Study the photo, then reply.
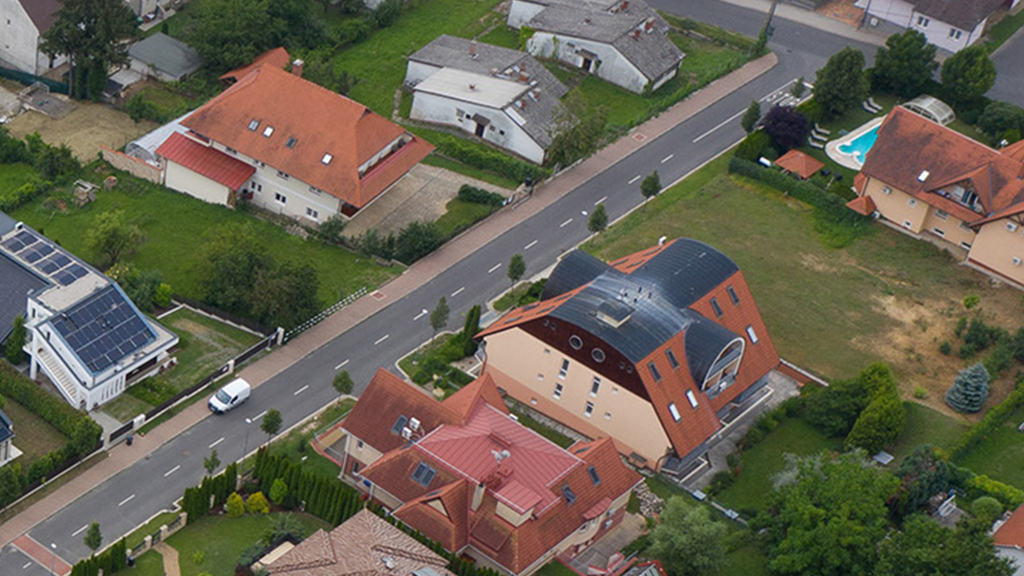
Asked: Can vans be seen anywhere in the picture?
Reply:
Yes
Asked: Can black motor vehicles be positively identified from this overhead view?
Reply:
No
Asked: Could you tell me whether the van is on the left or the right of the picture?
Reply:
left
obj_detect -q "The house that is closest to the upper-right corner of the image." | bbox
[908,0,1005,55]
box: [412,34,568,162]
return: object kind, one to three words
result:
house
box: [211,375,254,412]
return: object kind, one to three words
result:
van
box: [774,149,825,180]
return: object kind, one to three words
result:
gazebo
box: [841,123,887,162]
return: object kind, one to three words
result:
swimming pool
